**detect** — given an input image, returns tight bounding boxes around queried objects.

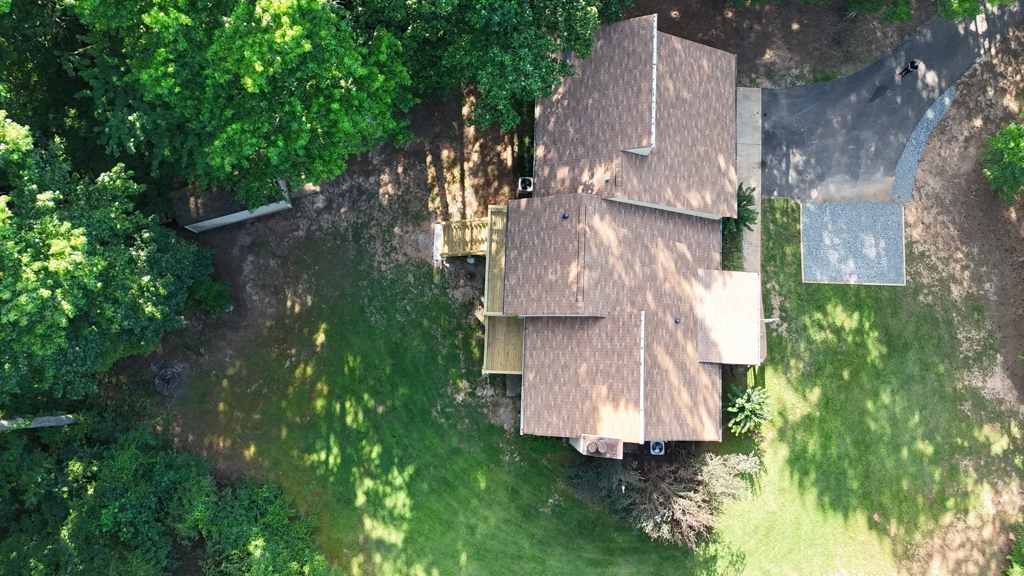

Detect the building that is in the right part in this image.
[501,16,761,458]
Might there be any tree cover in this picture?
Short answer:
Yes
